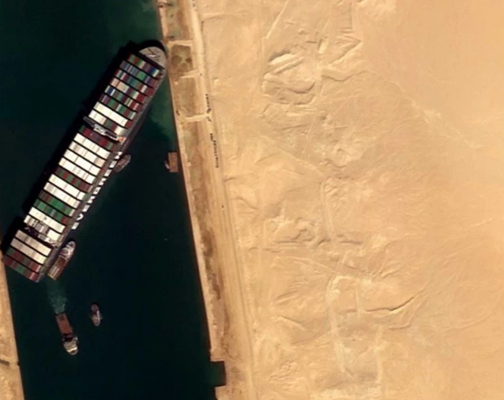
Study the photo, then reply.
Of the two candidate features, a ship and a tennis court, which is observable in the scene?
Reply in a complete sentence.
This aerial view contains a ship.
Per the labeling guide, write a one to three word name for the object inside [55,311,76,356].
ship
